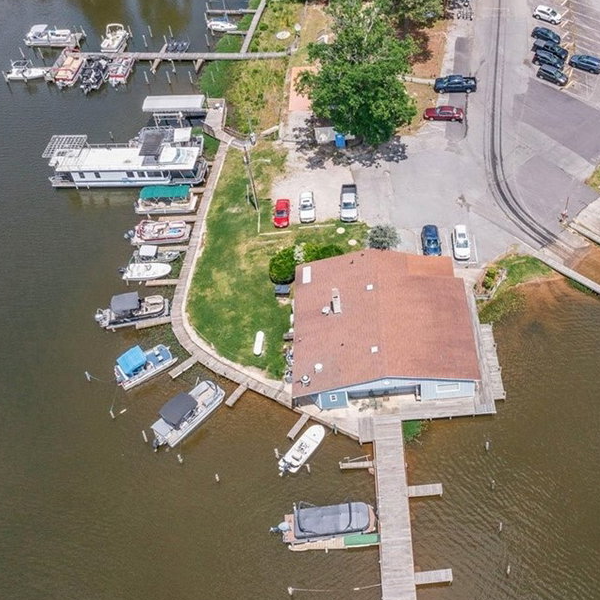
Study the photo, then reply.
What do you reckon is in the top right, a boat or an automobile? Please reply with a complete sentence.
The feature located in the top right is an automobile.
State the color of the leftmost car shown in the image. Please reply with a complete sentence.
From above, the leftmost car appears red.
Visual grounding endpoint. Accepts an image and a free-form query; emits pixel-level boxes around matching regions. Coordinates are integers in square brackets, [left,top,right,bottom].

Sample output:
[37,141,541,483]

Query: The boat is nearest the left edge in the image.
[3,60,49,82]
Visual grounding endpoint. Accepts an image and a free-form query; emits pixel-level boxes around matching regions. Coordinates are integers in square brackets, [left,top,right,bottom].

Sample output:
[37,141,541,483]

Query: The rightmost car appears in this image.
[567,52,600,74]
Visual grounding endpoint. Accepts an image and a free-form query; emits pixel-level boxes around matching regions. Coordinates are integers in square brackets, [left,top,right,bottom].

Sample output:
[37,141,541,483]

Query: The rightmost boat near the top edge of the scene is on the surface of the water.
[205,0,238,32]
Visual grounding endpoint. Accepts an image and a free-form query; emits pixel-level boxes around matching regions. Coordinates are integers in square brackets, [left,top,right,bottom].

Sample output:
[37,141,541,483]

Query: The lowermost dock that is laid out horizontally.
[411,568,454,589]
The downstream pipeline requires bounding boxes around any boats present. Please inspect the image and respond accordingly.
[51,51,86,90]
[81,56,117,96]
[127,222,192,249]
[153,386,228,450]
[99,25,125,53]
[130,242,182,266]
[276,425,323,481]
[106,56,139,91]
[276,501,377,549]
[205,0,238,32]
[94,292,170,334]
[40,132,207,189]
[116,343,181,393]
[172,42,189,54]
[3,60,49,82]
[163,42,180,54]
[23,27,79,50]
[132,185,198,218]
[117,264,173,285]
